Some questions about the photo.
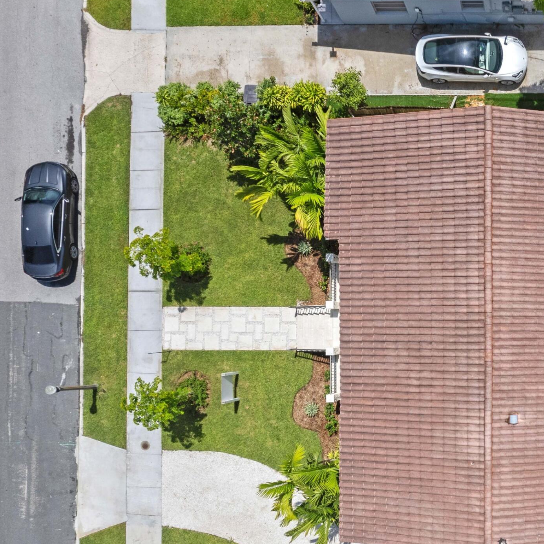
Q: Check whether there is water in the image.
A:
No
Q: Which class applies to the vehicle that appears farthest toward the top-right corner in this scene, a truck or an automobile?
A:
automobile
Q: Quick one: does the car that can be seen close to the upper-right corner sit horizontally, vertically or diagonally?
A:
horizontally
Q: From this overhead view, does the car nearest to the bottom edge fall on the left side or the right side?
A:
left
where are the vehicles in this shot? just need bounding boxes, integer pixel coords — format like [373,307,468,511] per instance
[17,160,81,281]
[411,28,531,84]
